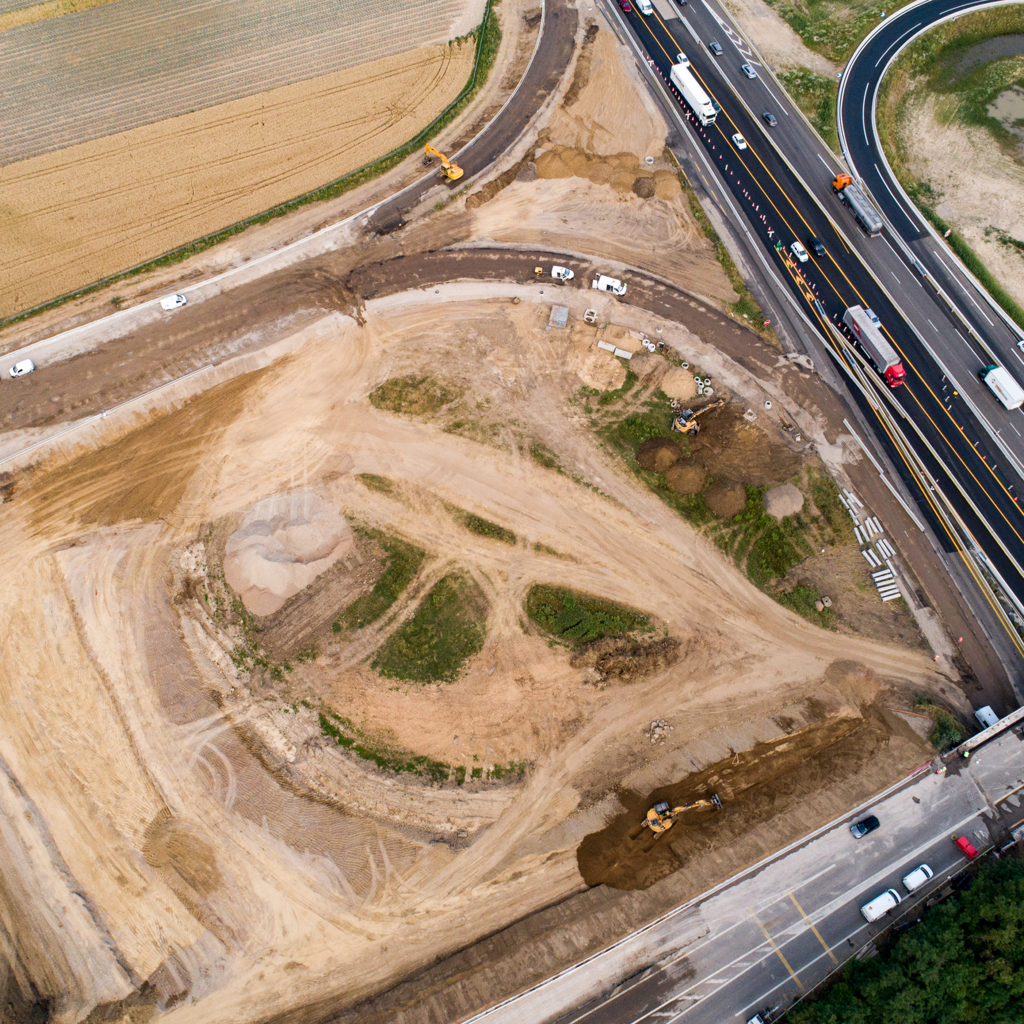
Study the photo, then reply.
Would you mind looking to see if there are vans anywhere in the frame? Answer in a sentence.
Yes, you can see a van in this photo.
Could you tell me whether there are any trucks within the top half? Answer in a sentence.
Yes, a truck is visible within the top half.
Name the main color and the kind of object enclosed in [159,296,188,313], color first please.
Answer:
white vehicle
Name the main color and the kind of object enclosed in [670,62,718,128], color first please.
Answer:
white truck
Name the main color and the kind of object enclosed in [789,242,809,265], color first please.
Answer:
white car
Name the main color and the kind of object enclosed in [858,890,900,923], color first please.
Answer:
white van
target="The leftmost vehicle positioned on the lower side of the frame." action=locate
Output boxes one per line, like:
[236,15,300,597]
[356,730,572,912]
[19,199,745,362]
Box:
[641,796,722,842]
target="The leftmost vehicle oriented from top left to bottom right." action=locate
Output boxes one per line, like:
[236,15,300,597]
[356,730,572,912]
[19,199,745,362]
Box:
[423,138,470,189]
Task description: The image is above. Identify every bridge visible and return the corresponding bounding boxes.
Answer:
[942,706,1024,764]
